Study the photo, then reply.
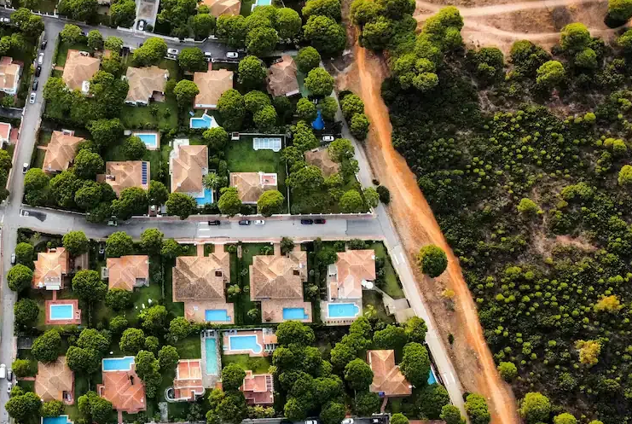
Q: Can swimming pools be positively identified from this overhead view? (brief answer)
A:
Yes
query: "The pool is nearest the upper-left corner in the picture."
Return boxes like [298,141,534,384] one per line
[132,129,162,151]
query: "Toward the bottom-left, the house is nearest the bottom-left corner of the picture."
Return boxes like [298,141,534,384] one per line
[35,355,76,402]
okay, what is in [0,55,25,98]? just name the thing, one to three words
house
